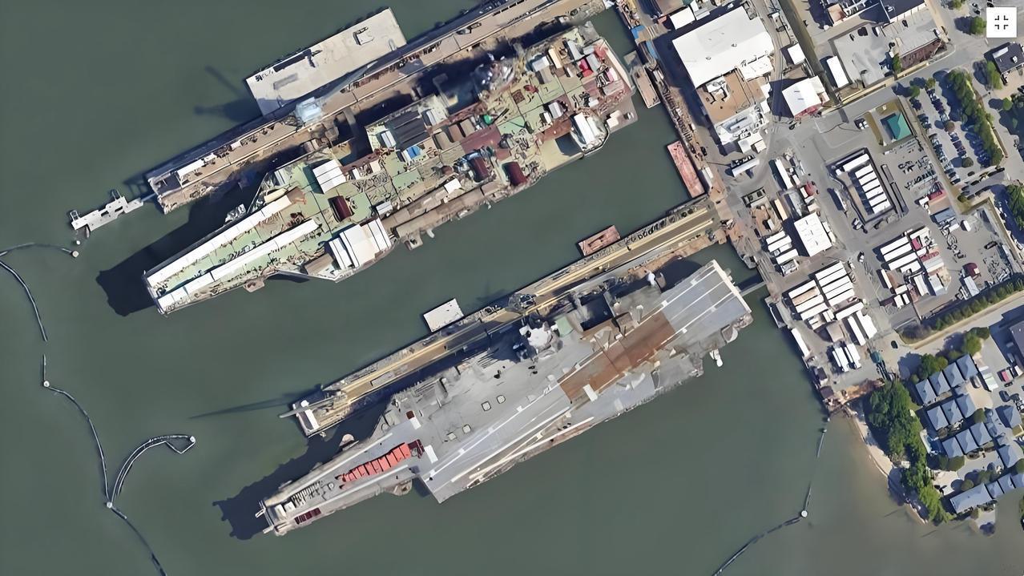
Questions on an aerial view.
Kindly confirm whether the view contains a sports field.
No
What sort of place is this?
port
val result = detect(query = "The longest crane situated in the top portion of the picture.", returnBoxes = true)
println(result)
[290,61,380,129]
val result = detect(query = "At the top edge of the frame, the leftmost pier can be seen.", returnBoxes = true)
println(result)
[146,0,609,214]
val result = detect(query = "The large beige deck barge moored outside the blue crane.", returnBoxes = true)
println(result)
[247,8,407,116]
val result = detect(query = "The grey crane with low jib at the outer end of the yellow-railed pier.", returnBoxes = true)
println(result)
[278,385,350,419]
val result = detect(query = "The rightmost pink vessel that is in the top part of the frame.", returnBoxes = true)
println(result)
[668,141,704,198]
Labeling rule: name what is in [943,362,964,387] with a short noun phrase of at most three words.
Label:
house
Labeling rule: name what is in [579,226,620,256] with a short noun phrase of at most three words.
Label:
ship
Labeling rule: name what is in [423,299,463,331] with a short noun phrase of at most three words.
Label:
ship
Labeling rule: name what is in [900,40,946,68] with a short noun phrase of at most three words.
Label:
building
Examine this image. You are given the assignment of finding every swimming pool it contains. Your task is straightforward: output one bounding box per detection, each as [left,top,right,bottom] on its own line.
[922,430,939,456]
